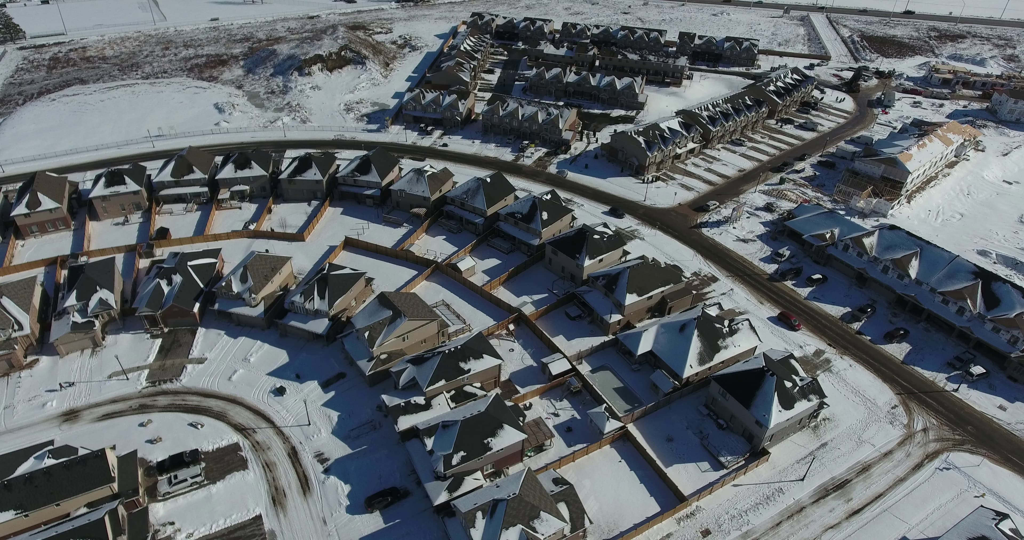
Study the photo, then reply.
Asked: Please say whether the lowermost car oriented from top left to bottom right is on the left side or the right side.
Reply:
right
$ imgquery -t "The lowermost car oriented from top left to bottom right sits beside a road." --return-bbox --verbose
[777,312,803,332]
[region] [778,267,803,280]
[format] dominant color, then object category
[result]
black vehicle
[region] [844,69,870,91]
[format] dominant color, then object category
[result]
black truck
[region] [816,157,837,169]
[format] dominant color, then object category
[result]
black vehicle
